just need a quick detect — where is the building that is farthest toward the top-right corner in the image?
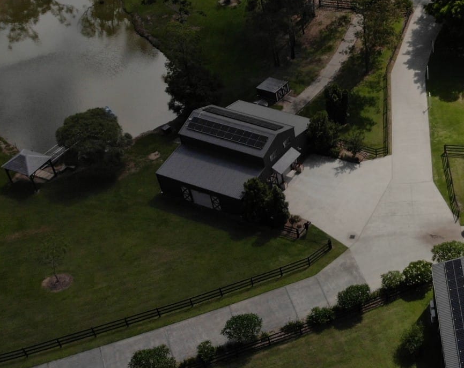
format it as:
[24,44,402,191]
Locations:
[256,76,289,106]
